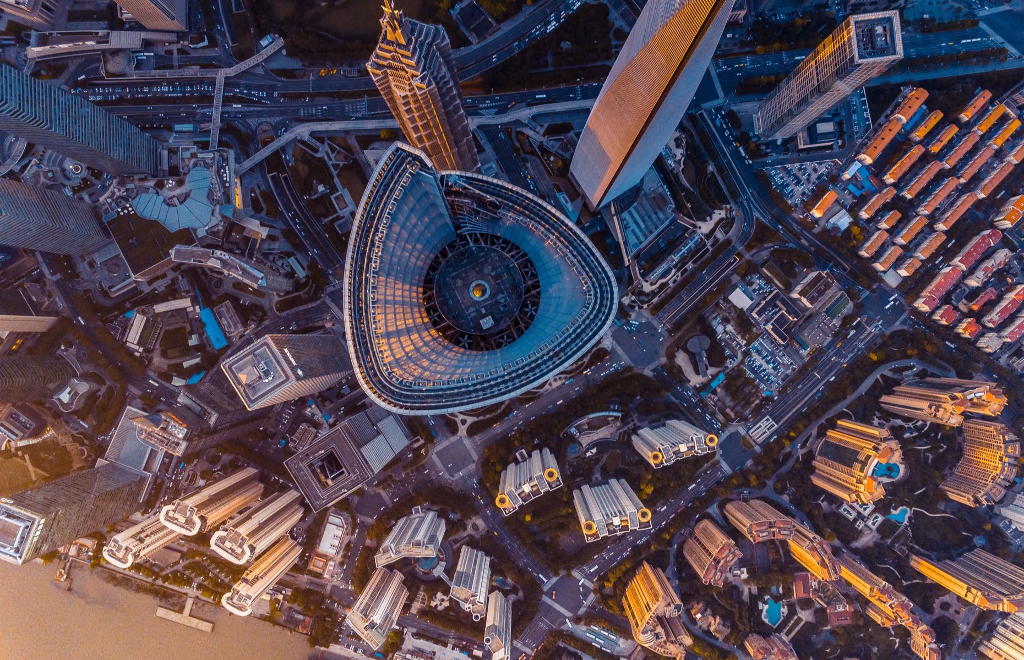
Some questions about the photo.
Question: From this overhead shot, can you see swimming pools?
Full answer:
Yes, there's a swimming pool here.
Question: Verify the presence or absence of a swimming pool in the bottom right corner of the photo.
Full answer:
Yes, a swimming pool appears in the bottom right corner of the photo.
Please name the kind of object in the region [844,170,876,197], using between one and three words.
shed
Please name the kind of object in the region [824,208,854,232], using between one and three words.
shed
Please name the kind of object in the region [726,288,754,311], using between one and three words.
building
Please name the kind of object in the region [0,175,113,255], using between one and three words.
building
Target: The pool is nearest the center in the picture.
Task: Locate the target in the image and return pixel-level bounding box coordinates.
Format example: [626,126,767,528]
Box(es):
[566,441,582,457]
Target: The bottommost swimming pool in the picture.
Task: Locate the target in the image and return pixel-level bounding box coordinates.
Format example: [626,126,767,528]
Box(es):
[812,631,838,646]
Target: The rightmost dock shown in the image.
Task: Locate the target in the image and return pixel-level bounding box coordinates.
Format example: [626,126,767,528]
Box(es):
[156,598,214,632]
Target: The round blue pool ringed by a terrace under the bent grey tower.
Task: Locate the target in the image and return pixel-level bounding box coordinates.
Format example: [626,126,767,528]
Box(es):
[416,555,440,575]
